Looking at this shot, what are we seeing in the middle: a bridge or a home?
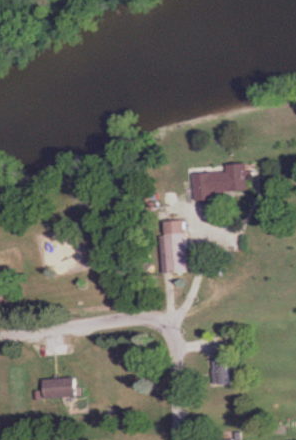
home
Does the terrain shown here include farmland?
No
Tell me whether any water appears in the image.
Yes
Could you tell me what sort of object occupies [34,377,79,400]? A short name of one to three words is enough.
house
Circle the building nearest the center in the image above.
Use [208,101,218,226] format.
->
[159,220,190,272]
